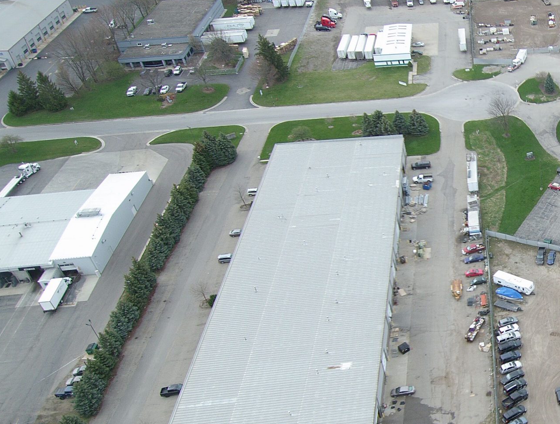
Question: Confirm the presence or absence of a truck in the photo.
Yes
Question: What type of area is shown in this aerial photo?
industrial area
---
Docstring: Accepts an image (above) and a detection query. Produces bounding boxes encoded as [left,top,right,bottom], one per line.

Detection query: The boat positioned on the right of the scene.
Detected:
[494,287,527,301]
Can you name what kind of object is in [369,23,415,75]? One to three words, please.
building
